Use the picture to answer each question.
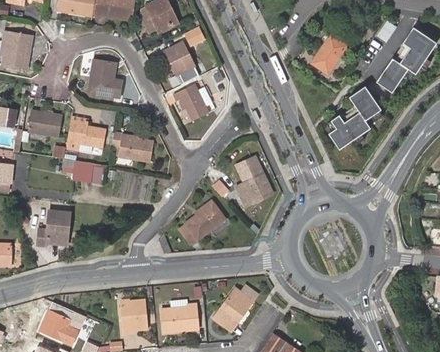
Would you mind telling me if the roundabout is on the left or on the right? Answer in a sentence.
The roundabout sits on the right side.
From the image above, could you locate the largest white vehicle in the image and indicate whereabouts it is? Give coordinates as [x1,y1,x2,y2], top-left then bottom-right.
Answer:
[271,56,288,84]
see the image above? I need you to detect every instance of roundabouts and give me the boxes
[276,190,388,303]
